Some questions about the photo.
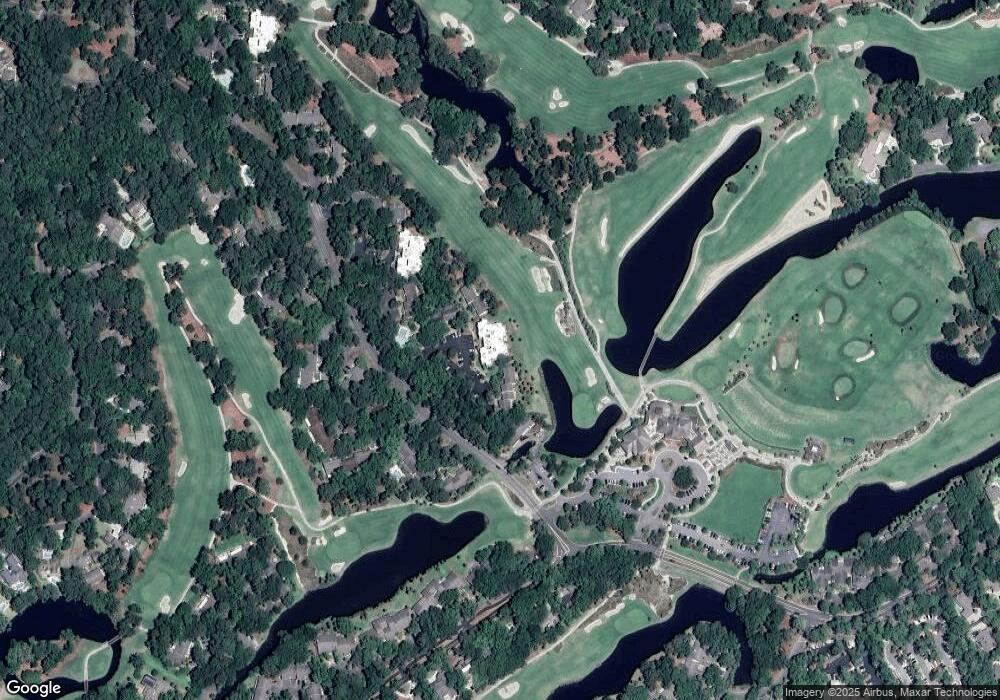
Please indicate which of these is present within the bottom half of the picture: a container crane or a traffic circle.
traffic circle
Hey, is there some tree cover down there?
Yes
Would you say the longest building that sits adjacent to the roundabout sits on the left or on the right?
right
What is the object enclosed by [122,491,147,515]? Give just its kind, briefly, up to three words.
house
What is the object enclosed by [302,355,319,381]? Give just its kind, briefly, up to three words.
house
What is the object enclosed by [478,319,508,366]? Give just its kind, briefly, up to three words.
building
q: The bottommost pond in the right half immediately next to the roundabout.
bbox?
[546,586,752,700]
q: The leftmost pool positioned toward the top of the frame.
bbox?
[119,230,135,248]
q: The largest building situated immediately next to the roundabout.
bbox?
[646,400,709,449]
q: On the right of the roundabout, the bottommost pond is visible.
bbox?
[755,442,1000,582]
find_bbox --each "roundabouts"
[632,449,711,551]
